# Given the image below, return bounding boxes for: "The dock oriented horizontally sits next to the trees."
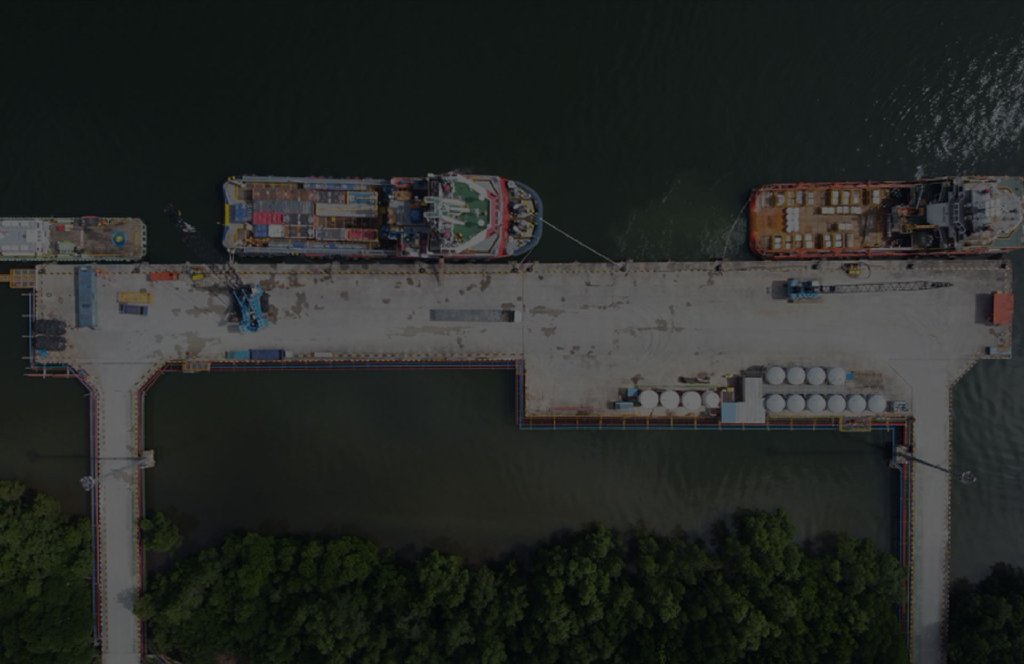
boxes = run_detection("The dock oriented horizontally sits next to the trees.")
[35,254,1011,664]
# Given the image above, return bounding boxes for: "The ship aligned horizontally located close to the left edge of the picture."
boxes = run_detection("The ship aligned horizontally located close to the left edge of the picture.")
[0,216,151,263]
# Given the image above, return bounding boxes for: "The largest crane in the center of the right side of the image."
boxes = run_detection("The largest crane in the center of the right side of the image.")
[785,279,957,301]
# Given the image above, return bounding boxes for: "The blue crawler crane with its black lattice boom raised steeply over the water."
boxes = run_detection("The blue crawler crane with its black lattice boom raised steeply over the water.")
[164,207,270,339]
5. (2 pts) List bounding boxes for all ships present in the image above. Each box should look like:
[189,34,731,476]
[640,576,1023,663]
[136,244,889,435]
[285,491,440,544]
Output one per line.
[222,171,544,258]
[0,216,151,263]
[745,175,1024,259]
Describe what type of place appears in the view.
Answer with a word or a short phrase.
port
